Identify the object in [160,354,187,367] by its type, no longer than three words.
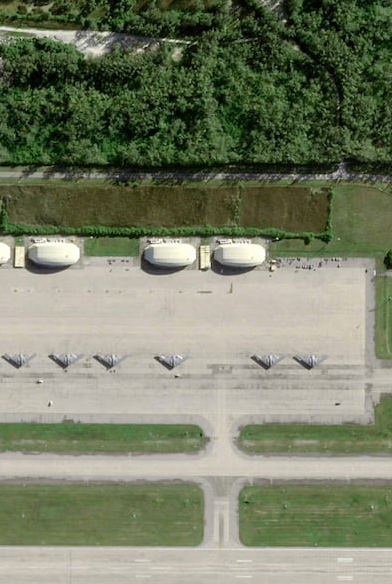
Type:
airplane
